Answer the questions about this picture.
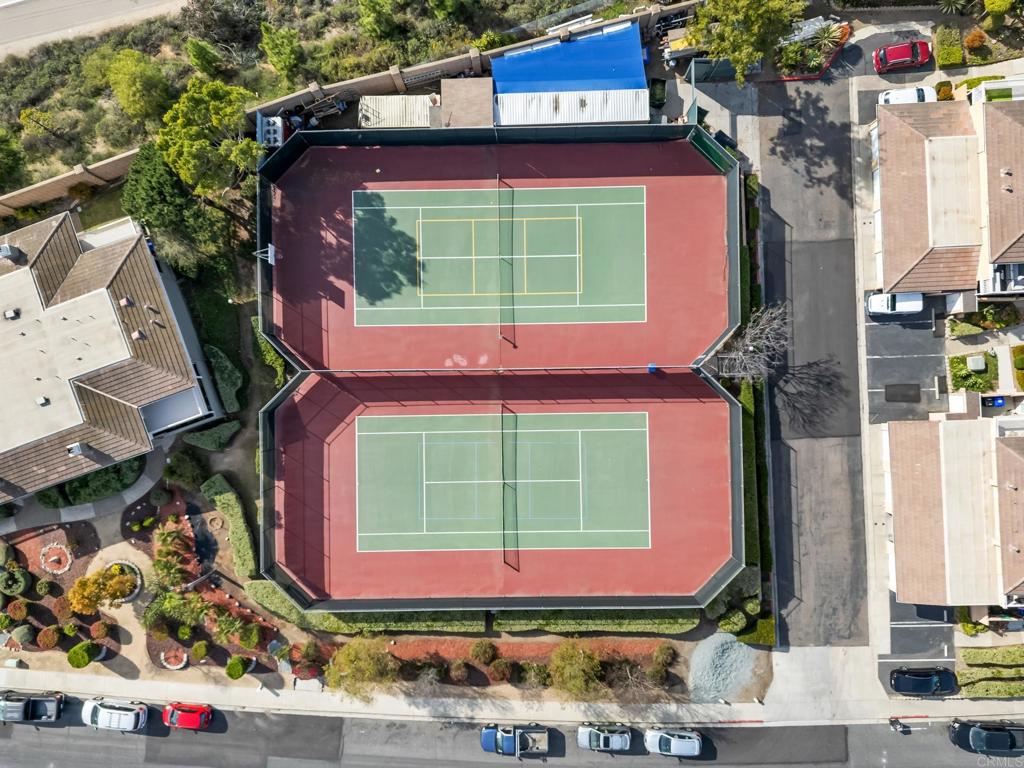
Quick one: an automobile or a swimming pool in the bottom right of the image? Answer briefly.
automobile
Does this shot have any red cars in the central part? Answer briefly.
No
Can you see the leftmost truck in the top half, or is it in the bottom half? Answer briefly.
bottom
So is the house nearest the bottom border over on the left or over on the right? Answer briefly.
right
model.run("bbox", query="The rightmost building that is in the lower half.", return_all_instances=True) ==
[877,416,1024,626]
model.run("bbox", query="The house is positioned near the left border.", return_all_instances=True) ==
[0,211,235,504]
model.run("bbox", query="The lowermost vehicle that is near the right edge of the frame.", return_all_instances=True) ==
[945,718,1024,757]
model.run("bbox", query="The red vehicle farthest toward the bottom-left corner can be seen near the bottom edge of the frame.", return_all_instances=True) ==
[165,700,215,730]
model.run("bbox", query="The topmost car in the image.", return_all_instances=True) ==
[869,38,929,75]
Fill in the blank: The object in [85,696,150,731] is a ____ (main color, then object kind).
white car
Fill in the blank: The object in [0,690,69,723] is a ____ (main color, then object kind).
gray truck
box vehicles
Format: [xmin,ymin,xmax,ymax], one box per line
[165,700,215,730]
[644,725,702,758]
[482,723,548,758]
[0,690,69,723]
[890,666,954,699]
[875,81,937,105]
[576,722,630,752]
[85,696,150,731]
[945,718,1024,757]
[869,38,929,75]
